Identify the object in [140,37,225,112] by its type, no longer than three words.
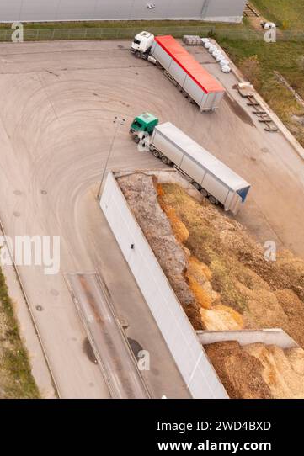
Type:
truck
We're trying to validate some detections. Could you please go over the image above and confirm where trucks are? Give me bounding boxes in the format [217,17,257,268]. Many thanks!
[134,120,252,214]
[140,37,225,112]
